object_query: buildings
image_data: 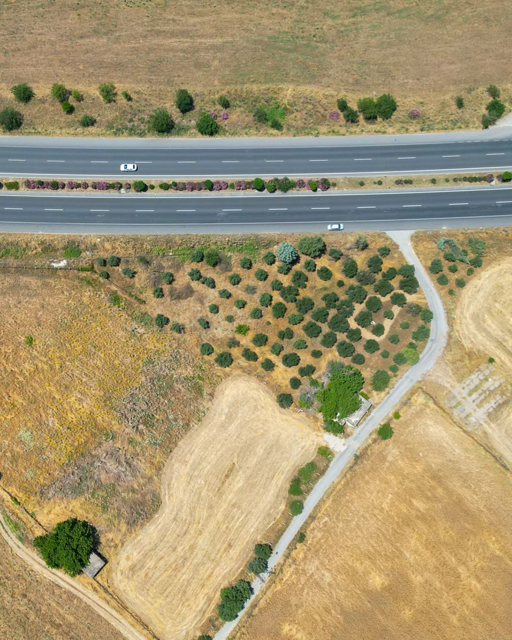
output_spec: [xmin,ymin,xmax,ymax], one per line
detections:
[342,399,372,426]
[80,549,108,578]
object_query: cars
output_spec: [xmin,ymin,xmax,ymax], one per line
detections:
[327,223,343,231]
[120,164,137,171]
